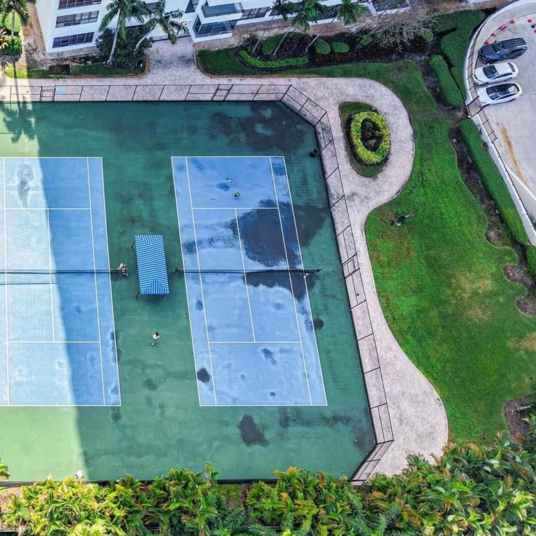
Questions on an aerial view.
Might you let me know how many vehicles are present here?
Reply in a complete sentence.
The number of vehicles here is 3.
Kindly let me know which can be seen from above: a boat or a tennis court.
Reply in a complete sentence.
It is a tennis court that can be seen here.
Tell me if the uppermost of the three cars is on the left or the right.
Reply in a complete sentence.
It is on the right.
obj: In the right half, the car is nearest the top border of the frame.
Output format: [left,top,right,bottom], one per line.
[479,35,531,67]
